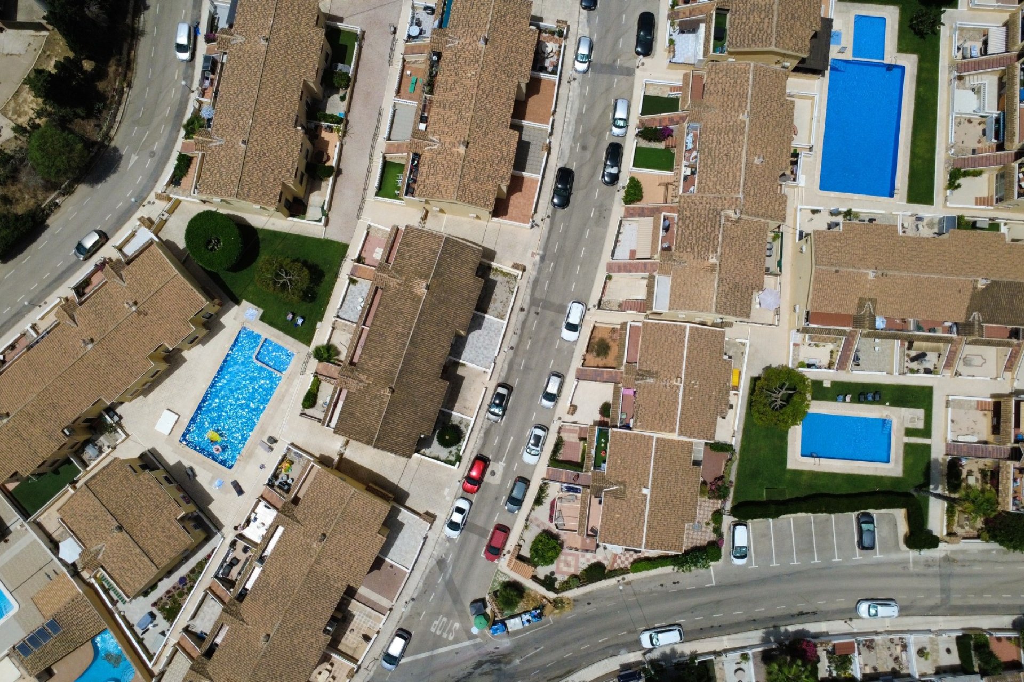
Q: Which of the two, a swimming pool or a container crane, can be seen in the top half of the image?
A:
swimming pool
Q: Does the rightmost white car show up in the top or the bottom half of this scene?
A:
bottom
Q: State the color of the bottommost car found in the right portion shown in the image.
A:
white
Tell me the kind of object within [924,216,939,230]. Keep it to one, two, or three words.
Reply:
umbrella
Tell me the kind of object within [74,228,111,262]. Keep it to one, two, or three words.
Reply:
car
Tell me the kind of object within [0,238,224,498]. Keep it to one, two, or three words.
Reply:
house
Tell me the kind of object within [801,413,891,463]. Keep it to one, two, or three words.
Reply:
swimming pool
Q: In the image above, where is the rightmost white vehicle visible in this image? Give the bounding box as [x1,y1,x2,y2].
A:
[855,598,898,620]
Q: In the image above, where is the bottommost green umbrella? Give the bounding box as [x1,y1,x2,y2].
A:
[473,613,489,630]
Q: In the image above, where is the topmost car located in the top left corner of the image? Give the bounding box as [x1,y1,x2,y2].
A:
[173,23,195,62]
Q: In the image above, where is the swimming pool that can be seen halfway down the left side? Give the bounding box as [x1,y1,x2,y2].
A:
[180,326,297,469]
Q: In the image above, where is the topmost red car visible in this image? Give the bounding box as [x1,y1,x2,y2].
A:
[462,453,492,494]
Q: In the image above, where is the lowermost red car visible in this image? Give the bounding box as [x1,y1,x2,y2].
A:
[484,523,511,562]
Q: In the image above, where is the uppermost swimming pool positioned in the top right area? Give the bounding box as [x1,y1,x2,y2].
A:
[852,15,886,58]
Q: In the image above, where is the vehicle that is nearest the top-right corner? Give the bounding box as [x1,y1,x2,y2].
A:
[634,12,656,57]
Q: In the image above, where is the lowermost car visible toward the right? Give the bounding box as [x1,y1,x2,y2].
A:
[640,624,683,649]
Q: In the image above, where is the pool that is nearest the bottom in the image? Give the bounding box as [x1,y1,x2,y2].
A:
[76,629,132,682]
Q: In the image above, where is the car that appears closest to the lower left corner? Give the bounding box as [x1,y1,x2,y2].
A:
[382,627,412,671]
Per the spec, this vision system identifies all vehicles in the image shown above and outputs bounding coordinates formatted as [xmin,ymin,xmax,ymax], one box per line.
[74,228,111,262]
[552,167,573,209]
[855,598,898,620]
[601,142,623,186]
[640,624,683,649]
[503,475,530,513]
[728,521,751,564]
[382,627,412,671]
[173,23,195,62]
[484,523,511,562]
[521,423,549,464]
[634,12,656,57]
[561,300,585,342]
[580,0,598,10]
[462,453,492,494]
[487,382,512,422]
[610,98,630,137]
[573,36,594,74]
[855,512,877,550]
[539,371,564,409]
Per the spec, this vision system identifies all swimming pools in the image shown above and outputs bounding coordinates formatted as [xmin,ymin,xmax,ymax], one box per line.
[852,15,886,58]
[819,59,904,197]
[180,326,297,469]
[76,629,132,682]
[801,413,891,463]
[0,586,14,618]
